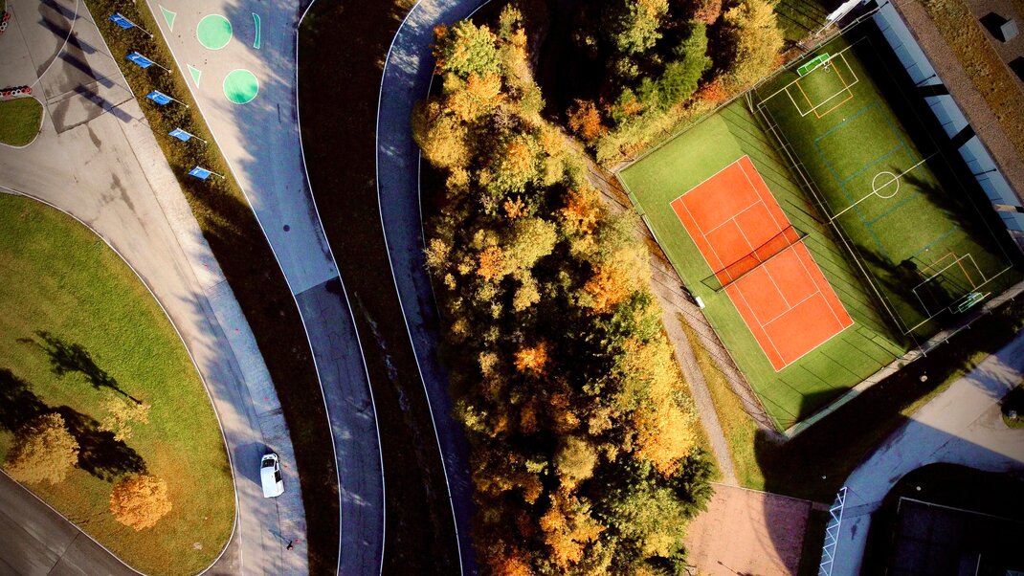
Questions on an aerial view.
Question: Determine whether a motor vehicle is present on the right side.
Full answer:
No, on the right side there is no motor vehicle.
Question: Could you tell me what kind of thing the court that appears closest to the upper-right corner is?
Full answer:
The court that appears closest to the upper-right corner in the image is a tennis court.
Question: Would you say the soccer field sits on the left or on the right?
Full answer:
The soccer field sits on the right side.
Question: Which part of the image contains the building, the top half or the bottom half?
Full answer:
The building sits in the top half of the picture.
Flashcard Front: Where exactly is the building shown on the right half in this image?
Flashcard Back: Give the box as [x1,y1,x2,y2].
[866,0,1024,259]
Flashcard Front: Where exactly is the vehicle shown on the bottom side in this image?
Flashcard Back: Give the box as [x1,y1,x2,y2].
[262,452,286,498]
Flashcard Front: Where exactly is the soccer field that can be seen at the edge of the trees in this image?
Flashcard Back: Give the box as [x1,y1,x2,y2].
[752,20,1024,341]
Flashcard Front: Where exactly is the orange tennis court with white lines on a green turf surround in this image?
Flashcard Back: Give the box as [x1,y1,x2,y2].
[619,98,910,433]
